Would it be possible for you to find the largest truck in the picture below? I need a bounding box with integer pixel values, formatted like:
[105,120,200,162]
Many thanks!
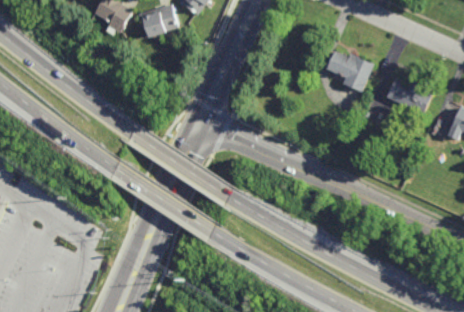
[34,116,70,145]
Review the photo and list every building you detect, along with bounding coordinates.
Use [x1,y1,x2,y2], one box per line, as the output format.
[444,96,464,142]
[143,4,181,38]
[178,0,214,16]
[325,51,374,92]
[390,81,434,113]
[94,0,140,36]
